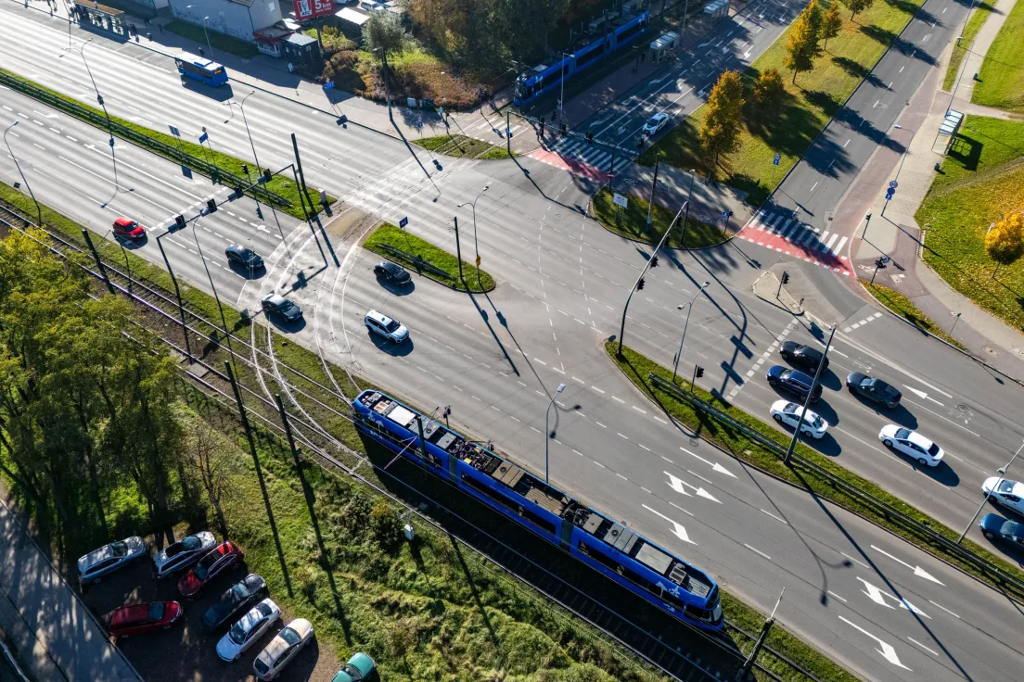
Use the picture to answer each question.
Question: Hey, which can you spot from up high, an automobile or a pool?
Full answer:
It is an automobile that can be seen here.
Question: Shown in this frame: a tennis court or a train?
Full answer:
There is a train in the scene.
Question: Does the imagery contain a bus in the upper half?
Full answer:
Yes, looking in the upper half, one can make out a bus.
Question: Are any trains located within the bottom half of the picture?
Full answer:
Yes, a train appears within the bottom half of the picture.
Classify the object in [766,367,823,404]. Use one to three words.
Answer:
car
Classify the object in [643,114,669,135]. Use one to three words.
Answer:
car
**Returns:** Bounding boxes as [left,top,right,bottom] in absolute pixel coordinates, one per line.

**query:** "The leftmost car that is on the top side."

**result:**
[112,218,145,241]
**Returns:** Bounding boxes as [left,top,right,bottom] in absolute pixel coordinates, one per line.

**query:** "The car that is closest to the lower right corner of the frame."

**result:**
[975,512,1024,557]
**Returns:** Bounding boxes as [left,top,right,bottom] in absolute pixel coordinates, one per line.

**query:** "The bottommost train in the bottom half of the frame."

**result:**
[358,393,726,637]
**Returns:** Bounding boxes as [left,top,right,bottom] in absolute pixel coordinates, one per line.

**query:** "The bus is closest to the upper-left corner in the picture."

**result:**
[172,49,229,85]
